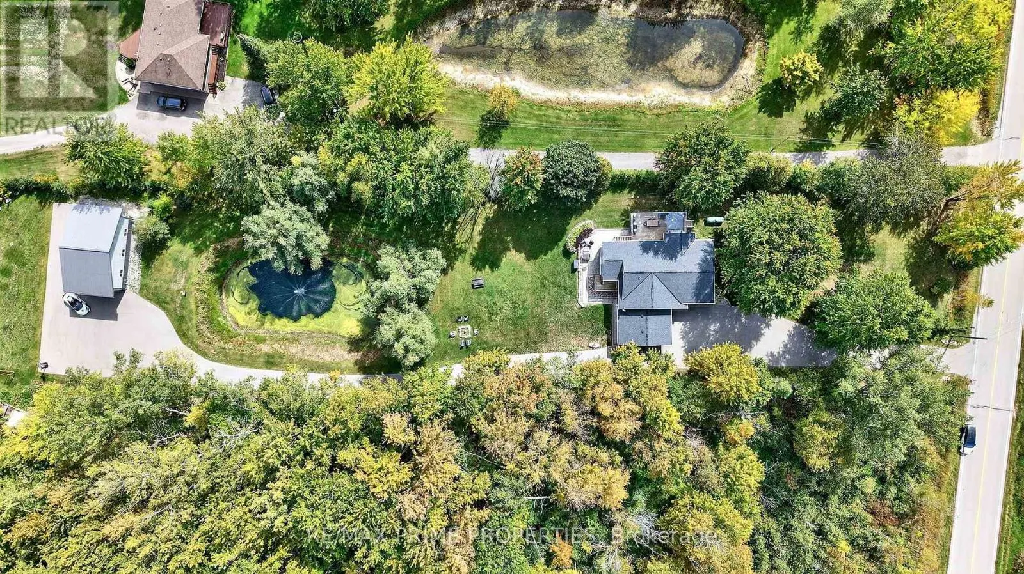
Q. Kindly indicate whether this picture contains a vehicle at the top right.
No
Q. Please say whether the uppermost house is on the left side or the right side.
left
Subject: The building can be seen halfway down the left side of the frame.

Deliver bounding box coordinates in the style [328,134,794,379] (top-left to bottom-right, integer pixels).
[57,204,135,298]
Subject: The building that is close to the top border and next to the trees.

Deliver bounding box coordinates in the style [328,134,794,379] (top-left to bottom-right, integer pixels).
[135,0,215,95]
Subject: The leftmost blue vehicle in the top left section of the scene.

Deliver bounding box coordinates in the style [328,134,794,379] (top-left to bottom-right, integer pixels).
[157,95,188,110]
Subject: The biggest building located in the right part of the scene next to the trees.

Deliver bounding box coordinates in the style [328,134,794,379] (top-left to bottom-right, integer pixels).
[601,230,721,346]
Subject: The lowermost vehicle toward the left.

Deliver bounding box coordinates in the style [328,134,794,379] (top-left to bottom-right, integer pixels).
[62,293,91,317]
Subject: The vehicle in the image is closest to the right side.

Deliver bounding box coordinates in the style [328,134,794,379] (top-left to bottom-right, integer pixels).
[957,424,976,456]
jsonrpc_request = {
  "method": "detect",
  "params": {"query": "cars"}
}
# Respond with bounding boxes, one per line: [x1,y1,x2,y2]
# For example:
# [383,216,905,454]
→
[957,424,976,456]
[157,95,188,110]
[260,82,277,111]
[62,293,91,317]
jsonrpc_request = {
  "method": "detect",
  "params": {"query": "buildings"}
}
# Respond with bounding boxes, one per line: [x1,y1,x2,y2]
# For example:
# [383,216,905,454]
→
[135,0,215,95]
[57,204,135,298]
[601,230,721,346]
